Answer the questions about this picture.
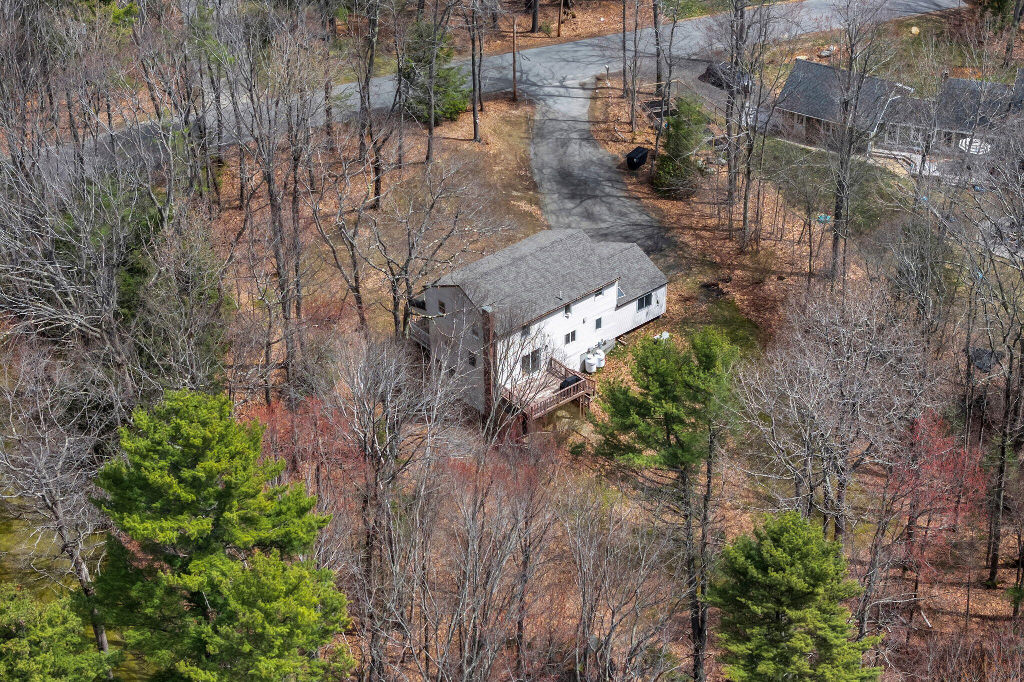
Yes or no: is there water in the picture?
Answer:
No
